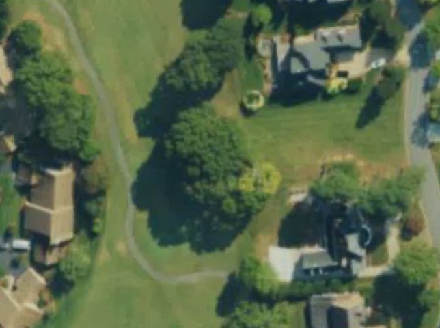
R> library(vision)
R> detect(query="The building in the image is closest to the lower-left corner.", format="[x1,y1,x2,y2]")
[0,260,49,328]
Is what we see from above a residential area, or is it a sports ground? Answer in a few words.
residential area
